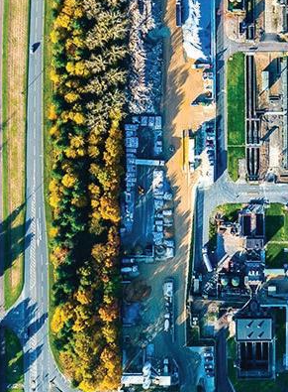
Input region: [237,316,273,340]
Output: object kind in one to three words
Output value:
building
